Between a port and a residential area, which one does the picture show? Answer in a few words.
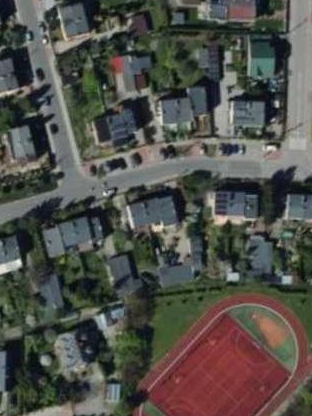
residential area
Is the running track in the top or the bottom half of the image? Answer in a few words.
bottom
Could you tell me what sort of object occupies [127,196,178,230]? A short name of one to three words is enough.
house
